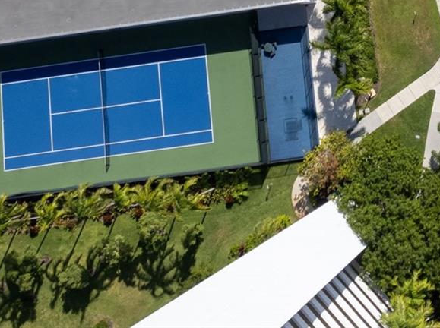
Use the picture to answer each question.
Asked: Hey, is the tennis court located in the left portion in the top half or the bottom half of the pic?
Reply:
top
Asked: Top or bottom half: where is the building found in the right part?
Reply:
bottom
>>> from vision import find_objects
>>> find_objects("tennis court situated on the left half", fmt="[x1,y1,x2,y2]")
[0,10,275,197]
